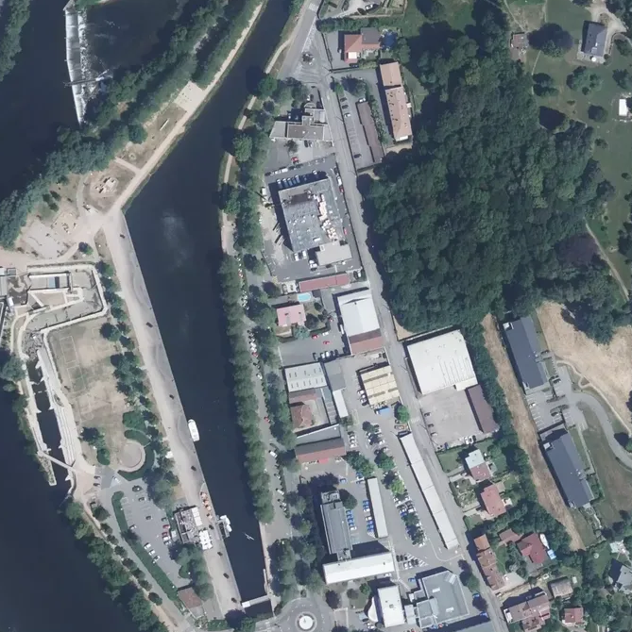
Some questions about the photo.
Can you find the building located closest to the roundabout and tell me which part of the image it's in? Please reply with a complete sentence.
You can find the building located closest to the roundabout in the bottom area of the picture.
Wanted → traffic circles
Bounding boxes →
[282,599,331,632]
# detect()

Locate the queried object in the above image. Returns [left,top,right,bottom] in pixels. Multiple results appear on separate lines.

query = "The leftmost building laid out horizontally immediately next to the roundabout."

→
[324,553,395,587]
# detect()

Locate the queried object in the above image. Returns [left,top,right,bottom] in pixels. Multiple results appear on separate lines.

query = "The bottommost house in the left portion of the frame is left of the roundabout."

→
[178,588,211,623]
